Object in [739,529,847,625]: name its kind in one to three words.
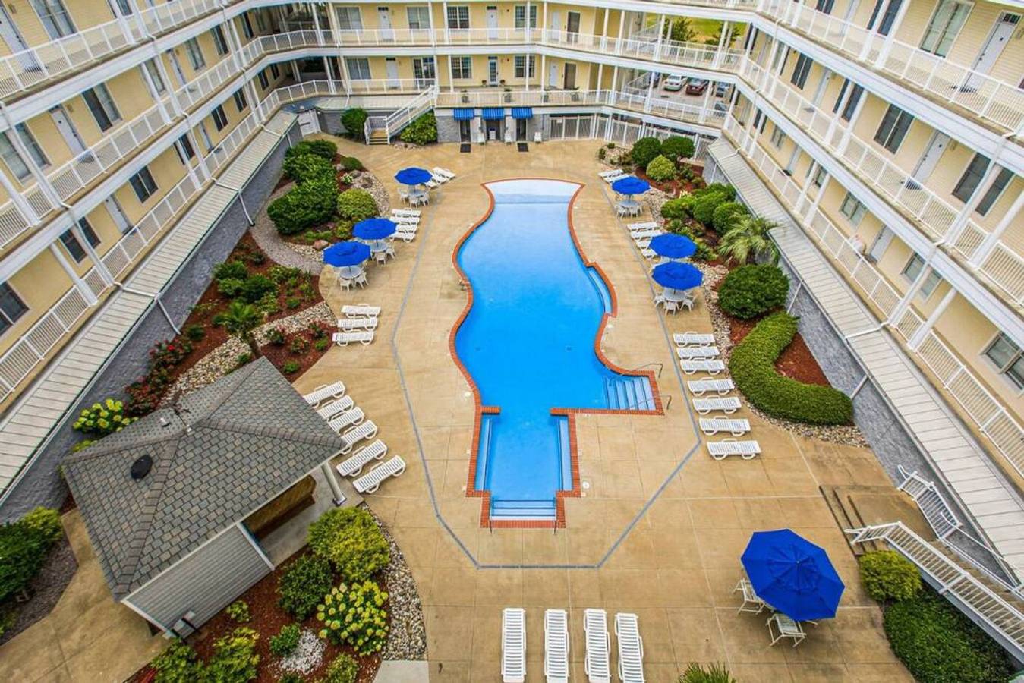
umbrella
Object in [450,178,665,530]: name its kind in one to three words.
swimming pool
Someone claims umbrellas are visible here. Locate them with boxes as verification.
[650,235,695,261]
[653,262,704,295]
[739,529,847,625]
[321,242,370,274]
[394,167,432,195]
[353,218,398,247]
[612,177,651,205]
